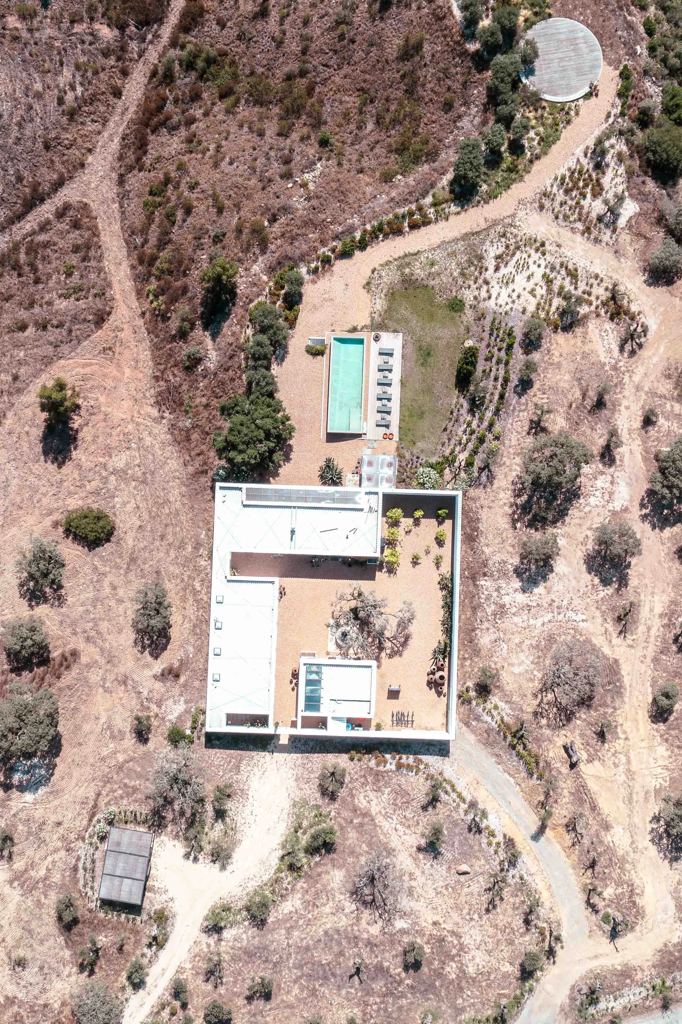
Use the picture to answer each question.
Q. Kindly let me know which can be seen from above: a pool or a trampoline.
pool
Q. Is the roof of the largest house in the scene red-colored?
No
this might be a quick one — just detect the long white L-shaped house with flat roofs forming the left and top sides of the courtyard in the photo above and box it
[205,482,385,734]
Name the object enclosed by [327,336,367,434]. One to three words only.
swimming pool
